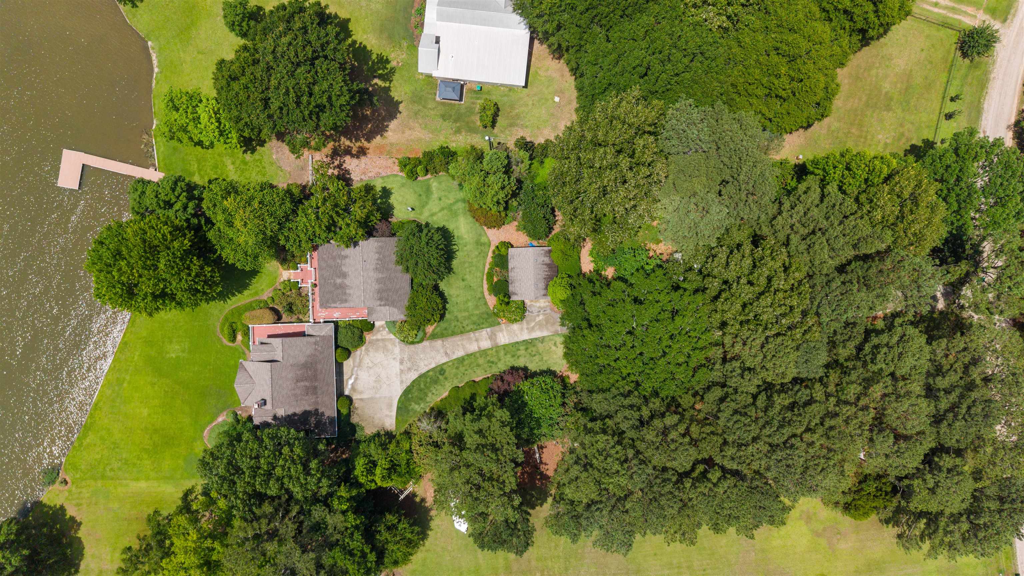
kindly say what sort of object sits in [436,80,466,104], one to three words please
gazebo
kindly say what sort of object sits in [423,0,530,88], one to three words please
building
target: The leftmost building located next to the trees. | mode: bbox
[234,323,342,438]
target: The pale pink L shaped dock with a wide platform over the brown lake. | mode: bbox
[57,149,163,190]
